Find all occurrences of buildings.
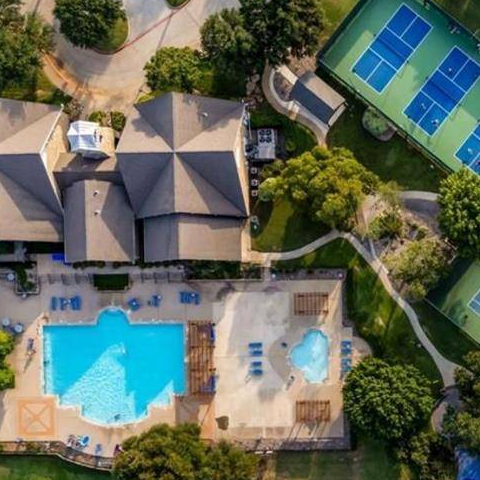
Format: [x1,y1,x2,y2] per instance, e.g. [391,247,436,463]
[292,72,348,128]
[0,92,252,263]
